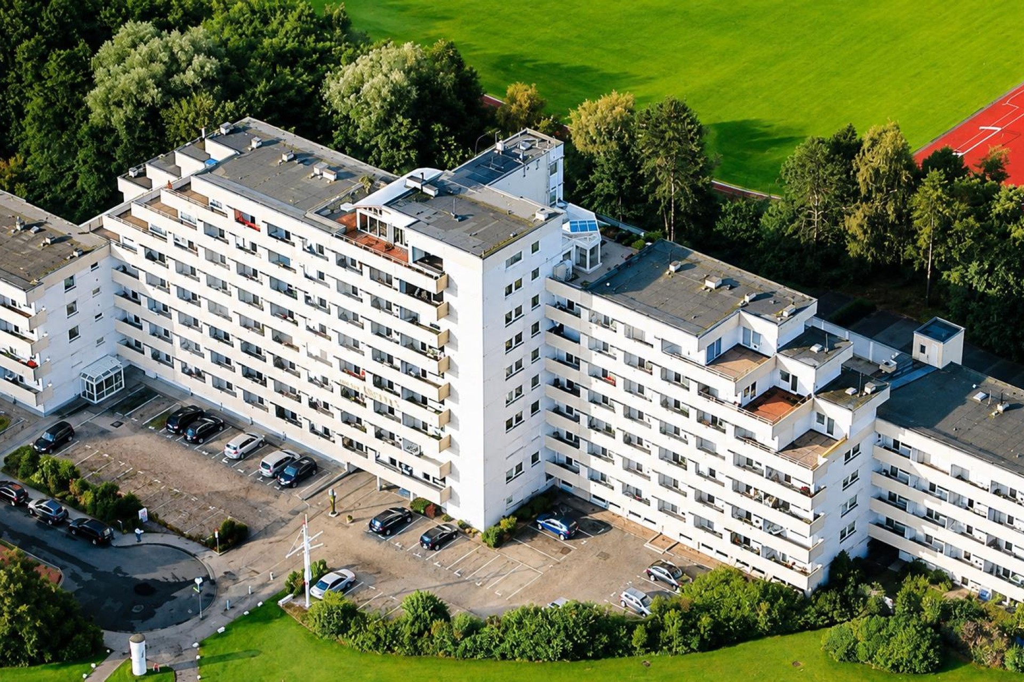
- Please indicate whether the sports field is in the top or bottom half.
top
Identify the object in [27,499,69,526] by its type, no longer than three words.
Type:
car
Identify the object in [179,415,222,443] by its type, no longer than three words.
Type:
car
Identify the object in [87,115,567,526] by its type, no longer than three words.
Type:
building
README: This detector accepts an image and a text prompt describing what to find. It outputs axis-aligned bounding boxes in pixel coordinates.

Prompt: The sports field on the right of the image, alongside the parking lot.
[251,0,1024,208]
